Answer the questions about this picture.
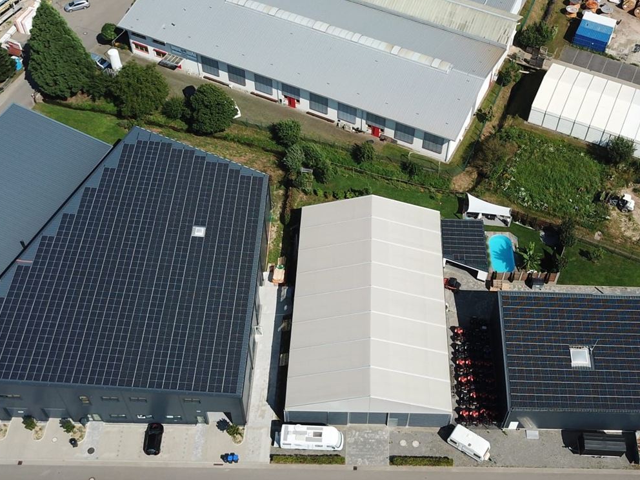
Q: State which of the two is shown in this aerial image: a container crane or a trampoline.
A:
trampoline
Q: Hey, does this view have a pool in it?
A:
Yes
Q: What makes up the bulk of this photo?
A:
buildings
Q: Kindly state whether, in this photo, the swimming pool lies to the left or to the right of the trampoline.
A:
on the left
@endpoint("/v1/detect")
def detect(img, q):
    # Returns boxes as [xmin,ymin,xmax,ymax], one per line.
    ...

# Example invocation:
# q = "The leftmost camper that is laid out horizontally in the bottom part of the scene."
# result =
[278,419,344,450]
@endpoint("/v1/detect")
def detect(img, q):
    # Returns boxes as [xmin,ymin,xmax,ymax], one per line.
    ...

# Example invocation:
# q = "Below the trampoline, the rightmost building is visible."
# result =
[494,291,640,431]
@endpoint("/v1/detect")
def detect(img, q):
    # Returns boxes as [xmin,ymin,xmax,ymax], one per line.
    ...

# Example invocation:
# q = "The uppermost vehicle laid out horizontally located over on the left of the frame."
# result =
[60,0,92,13]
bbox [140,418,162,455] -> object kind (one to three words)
car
